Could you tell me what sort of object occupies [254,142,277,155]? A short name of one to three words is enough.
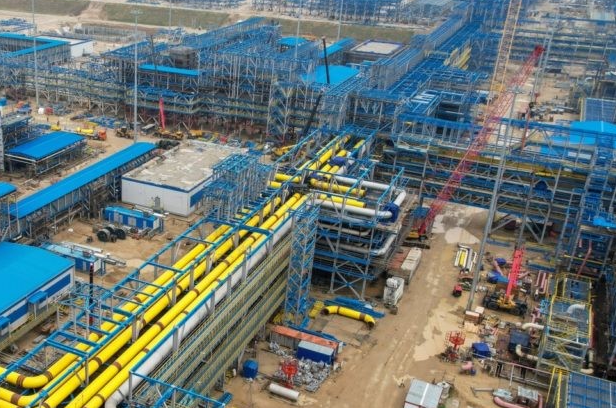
vehicle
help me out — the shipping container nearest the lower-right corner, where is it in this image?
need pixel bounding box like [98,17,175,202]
[397,250,425,281]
